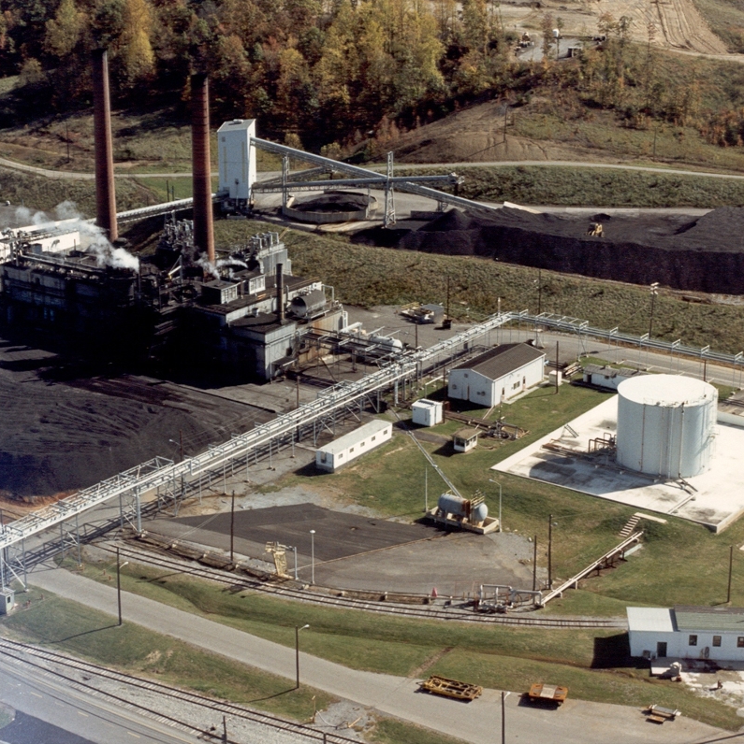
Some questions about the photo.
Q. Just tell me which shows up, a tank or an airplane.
tank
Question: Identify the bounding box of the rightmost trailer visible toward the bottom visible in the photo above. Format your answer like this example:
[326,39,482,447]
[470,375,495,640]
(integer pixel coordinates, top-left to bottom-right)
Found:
[519,679,566,699]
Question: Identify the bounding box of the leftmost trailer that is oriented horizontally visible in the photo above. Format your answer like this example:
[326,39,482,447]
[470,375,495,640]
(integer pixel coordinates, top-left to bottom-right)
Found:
[411,677,479,700]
